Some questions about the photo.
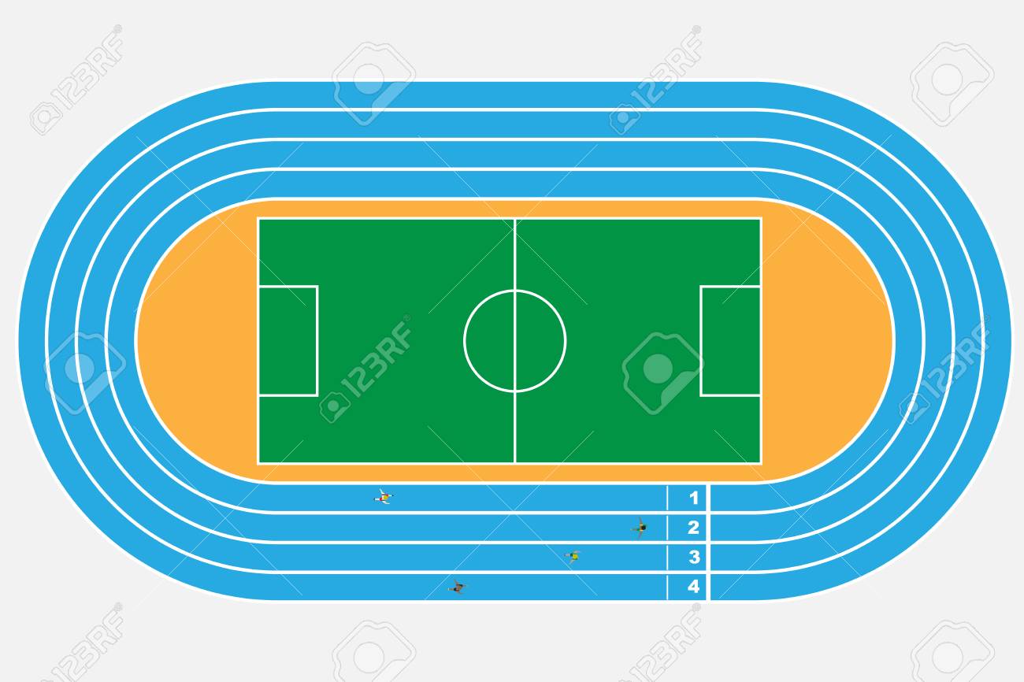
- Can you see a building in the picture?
No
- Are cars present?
No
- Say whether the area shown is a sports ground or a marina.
sports ground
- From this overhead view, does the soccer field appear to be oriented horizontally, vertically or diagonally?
horizontally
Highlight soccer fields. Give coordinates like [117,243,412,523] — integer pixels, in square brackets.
[257,217,762,465]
